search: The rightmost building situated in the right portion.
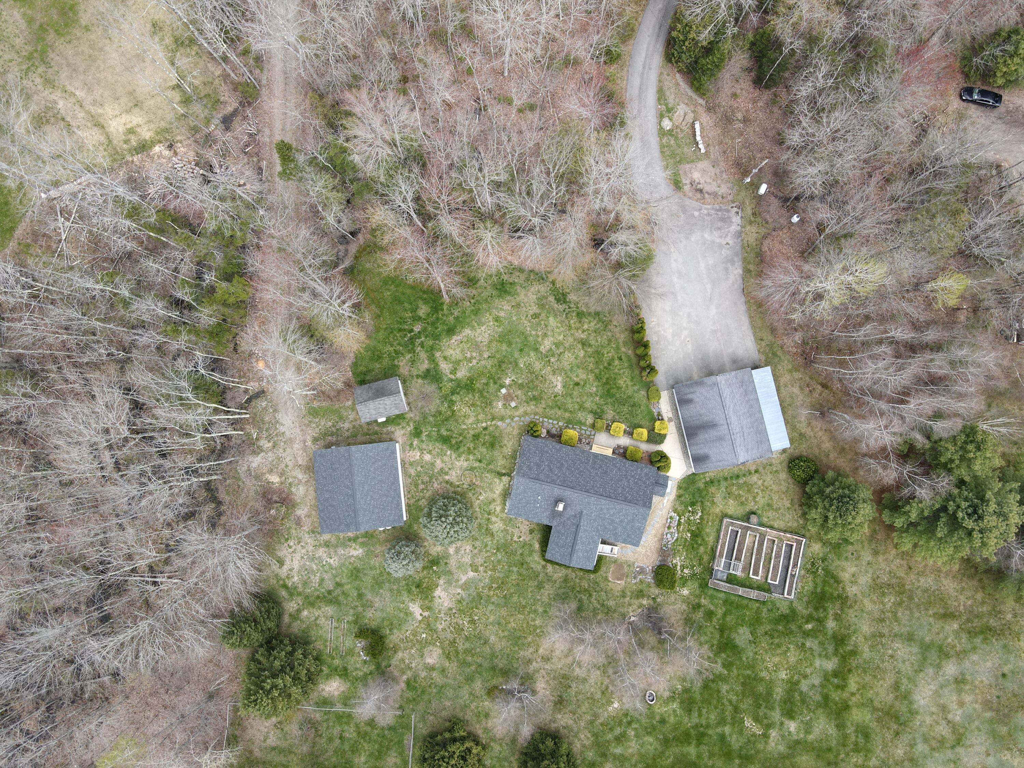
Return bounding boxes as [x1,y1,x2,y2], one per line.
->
[673,365,789,474]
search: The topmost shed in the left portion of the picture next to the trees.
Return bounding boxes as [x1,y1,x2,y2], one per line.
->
[353,377,408,422]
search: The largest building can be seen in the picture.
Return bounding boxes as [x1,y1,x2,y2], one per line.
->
[507,435,669,570]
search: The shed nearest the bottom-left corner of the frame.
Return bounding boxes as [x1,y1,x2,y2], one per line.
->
[313,441,407,534]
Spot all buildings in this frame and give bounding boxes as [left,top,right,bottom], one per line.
[507,435,669,570]
[313,441,407,534]
[353,377,408,422]
[673,365,789,474]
